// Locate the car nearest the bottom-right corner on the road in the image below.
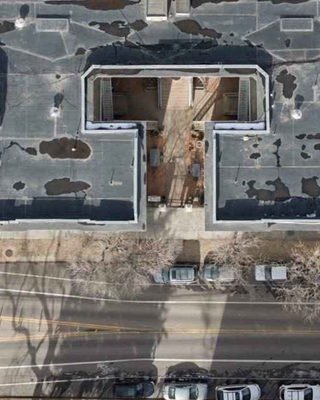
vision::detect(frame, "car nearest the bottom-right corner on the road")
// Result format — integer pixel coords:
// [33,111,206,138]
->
[279,382,320,400]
